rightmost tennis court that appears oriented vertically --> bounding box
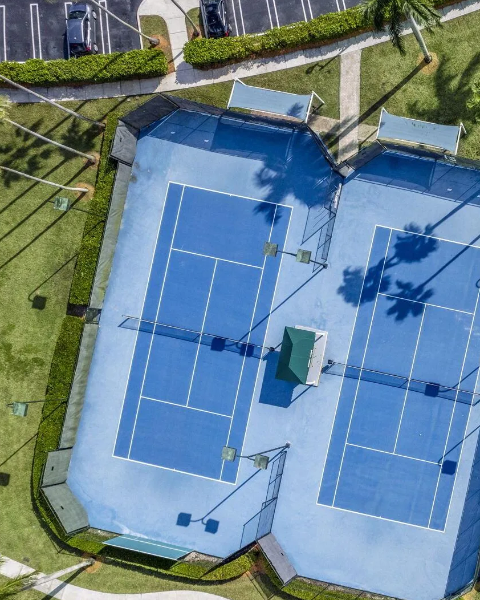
[271,151,480,600]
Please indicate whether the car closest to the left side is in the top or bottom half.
top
